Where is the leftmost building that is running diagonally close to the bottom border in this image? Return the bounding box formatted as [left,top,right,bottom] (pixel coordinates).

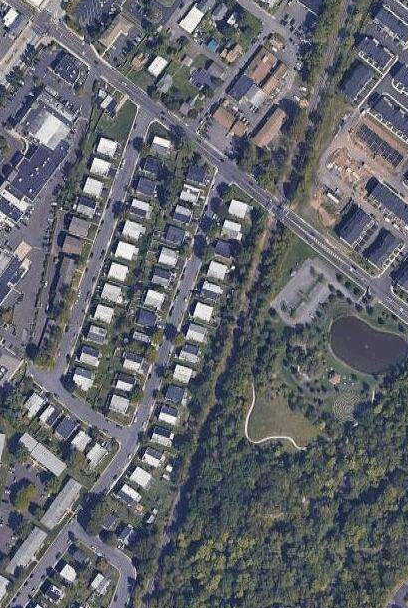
[6,526,46,578]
